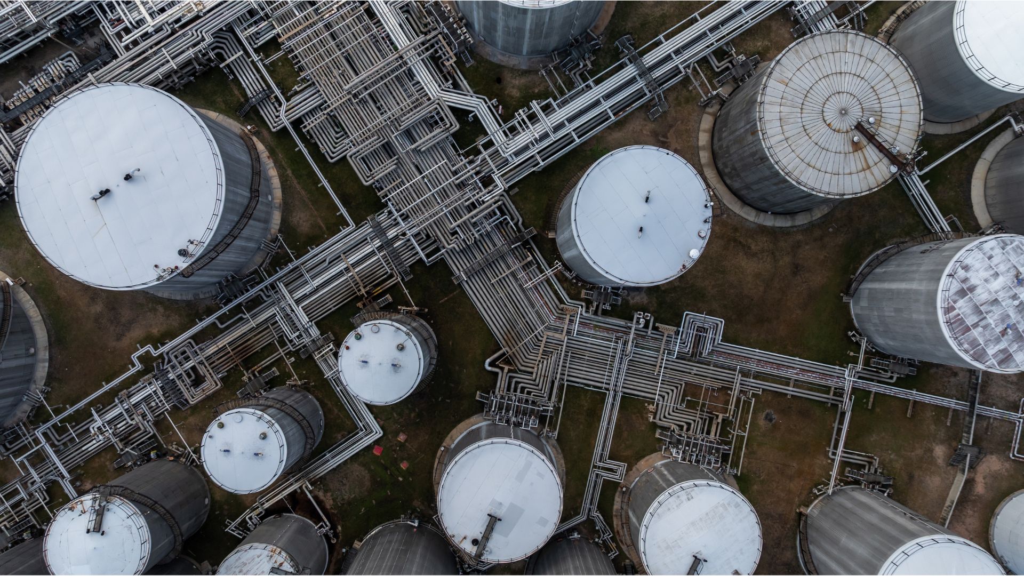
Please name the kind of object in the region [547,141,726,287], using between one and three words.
storage tank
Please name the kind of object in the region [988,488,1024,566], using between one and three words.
storage tank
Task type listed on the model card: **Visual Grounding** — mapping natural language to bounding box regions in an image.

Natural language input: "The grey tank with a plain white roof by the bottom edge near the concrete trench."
[796,483,1017,576]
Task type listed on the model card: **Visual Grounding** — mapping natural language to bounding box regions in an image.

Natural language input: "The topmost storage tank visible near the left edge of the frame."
[4,78,282,298]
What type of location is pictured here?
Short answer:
industrial area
